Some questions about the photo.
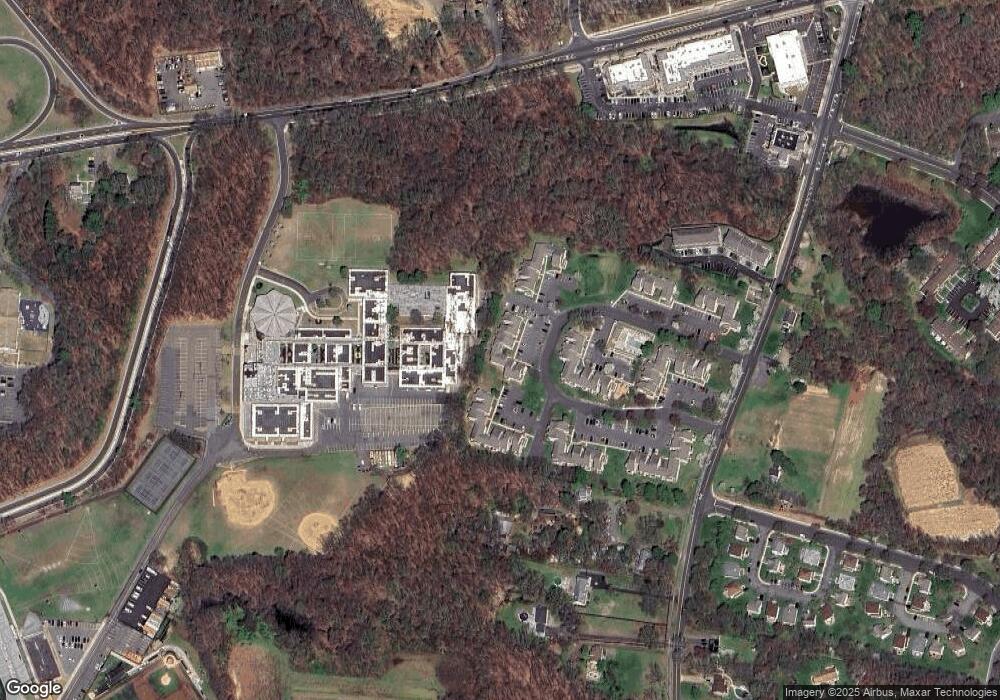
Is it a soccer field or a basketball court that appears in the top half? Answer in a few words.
soccer field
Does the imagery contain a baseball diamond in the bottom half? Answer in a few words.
Yes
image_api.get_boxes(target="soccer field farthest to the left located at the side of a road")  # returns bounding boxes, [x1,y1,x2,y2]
[0,494,153,606]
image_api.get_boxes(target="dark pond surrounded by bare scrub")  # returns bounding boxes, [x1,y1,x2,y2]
[845,185,938,253]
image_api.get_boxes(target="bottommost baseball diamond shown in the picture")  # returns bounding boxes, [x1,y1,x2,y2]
[115,647,210,700]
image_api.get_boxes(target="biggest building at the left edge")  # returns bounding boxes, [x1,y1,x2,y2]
[21,299,49,332]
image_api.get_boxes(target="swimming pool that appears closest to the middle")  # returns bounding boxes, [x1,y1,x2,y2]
[626,334,645,350]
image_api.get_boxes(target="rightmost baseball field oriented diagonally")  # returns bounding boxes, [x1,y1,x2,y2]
[284,453,386,556]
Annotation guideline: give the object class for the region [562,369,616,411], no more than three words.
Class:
building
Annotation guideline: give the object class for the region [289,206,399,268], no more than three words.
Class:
soccer field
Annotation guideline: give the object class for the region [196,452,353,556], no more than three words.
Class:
baseball field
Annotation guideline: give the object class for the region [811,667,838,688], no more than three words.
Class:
house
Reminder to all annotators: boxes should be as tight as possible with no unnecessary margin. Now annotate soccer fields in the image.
[289,206,399,268]
[0,494,153,606]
